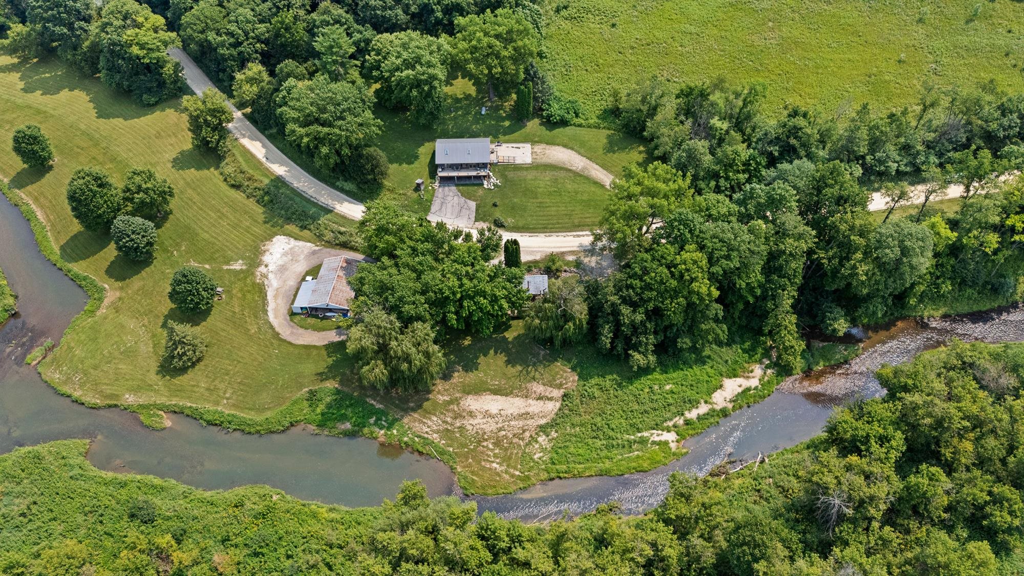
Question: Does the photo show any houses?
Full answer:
Yes, you can see a house in this photo.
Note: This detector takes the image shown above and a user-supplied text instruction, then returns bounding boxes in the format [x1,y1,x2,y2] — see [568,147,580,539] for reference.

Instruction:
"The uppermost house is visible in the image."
[435,139,490,184]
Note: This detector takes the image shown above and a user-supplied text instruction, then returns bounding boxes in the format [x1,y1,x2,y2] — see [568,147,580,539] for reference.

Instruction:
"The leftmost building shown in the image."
[291,255,363,319]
